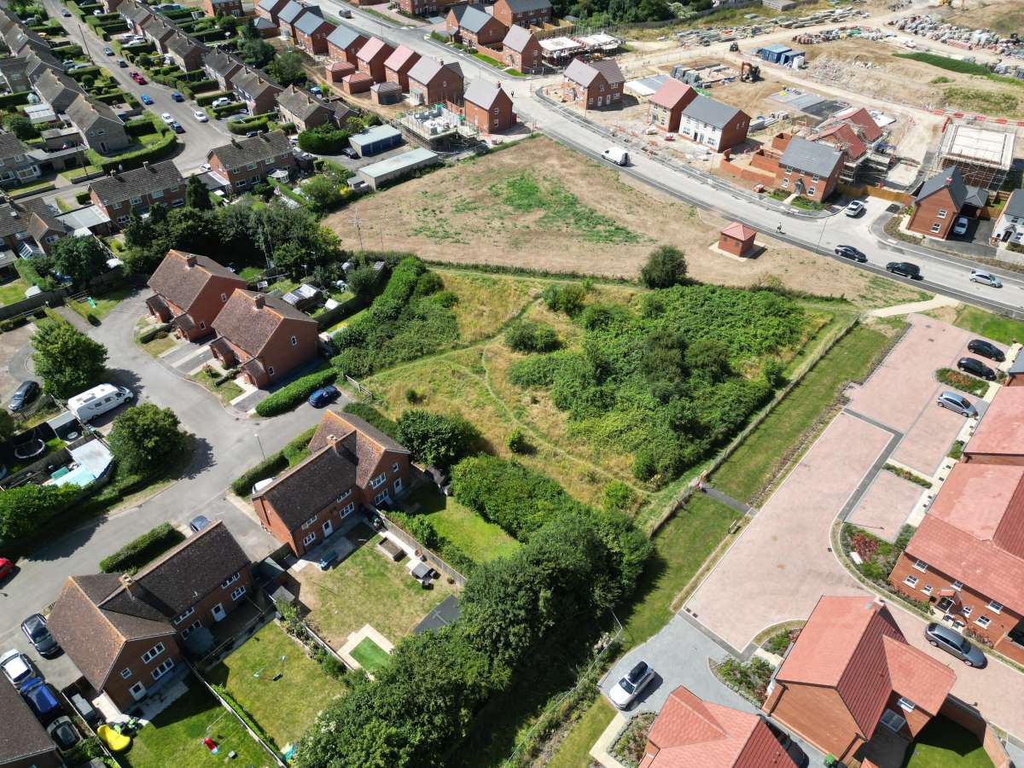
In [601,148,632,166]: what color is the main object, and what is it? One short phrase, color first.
white vehicle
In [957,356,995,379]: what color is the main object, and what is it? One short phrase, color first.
black car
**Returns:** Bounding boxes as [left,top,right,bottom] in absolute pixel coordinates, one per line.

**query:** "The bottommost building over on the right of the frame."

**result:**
[640,693,787,768]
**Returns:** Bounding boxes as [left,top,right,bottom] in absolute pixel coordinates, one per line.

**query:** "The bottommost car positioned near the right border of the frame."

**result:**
[923,622,987,669]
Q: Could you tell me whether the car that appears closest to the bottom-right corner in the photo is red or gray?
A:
gray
